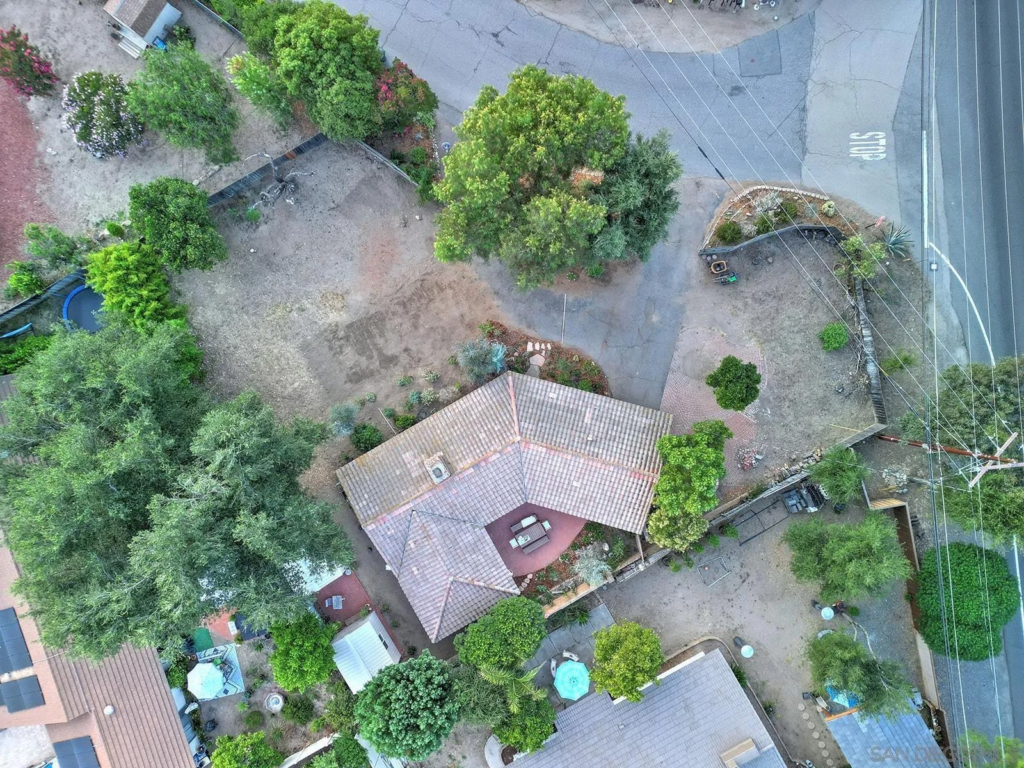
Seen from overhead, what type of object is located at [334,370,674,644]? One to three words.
house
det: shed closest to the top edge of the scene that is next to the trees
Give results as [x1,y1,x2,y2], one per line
[103,0,189,59]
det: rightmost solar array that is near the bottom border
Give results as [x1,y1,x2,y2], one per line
[54,735,100,768]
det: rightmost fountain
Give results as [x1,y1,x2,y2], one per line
[263,693,284,714]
